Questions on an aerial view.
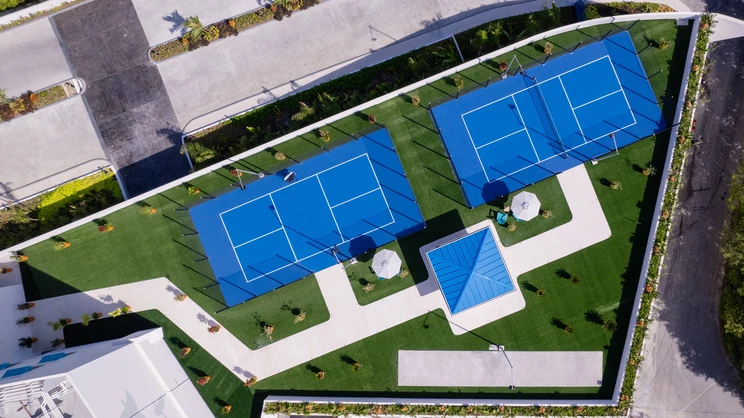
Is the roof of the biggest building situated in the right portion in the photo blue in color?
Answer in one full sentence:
Yes, blue is the color of the roof of the biggest building situated in the right portion.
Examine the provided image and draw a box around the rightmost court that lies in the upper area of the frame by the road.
[430,31,668,207]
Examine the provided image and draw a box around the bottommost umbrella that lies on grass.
[371,248,403,280]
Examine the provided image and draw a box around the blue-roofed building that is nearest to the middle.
[426,225,517,315]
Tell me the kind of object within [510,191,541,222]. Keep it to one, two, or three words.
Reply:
umbrella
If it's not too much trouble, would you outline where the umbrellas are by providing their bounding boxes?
[371,248,403,280]
[510,191,541,222]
